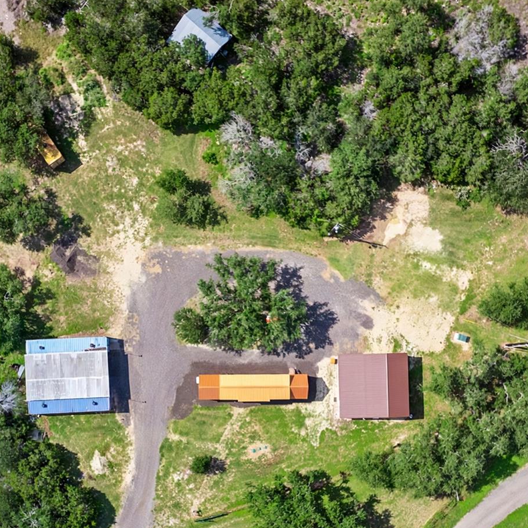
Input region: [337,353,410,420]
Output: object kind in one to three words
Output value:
barn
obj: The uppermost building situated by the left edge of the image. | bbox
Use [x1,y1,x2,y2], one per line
[24,337,112,415]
